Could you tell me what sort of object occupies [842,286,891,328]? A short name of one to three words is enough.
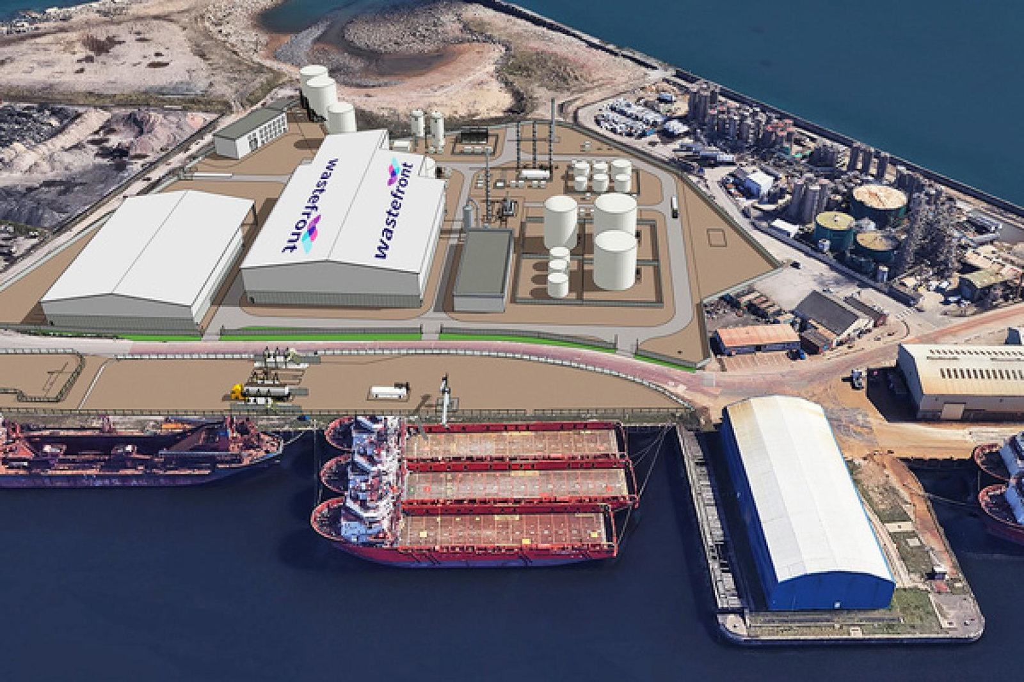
shed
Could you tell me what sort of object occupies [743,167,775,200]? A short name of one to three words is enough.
building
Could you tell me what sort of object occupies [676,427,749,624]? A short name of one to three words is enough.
pier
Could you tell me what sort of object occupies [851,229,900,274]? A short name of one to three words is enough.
storage tank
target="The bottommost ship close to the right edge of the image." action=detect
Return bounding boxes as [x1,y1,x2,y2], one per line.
[977,485,1024,548]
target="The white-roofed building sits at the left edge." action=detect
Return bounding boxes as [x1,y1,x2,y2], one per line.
[39,189,255,331]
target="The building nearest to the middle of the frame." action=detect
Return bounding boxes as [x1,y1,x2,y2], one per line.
[454,225,512,315]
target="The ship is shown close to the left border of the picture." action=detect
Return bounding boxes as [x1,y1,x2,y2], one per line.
[0,406,282,486]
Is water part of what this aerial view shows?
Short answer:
Yes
